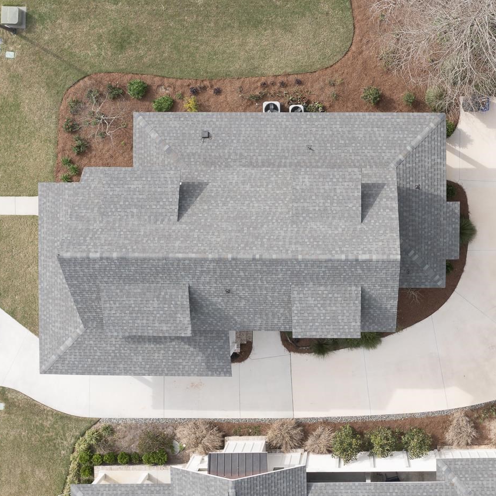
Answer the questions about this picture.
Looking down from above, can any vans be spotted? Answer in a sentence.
No, no van can be seen from above.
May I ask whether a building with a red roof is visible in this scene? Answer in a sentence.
No, I can't see a single building with a red roof in this photo.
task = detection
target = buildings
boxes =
[69,436,496,496]
[38,111,460,378]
